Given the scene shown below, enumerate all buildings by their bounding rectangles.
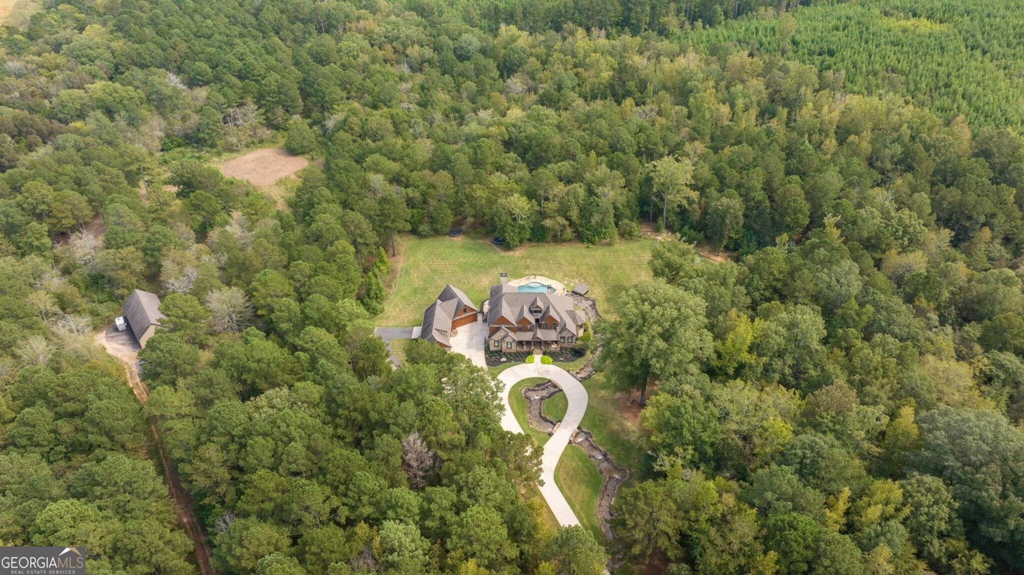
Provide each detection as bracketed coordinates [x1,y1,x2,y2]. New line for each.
[123,288,168,347]
[574,283,589,299]
[487,273,583,354]
[419,284,480,355]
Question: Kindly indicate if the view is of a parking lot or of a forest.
forest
